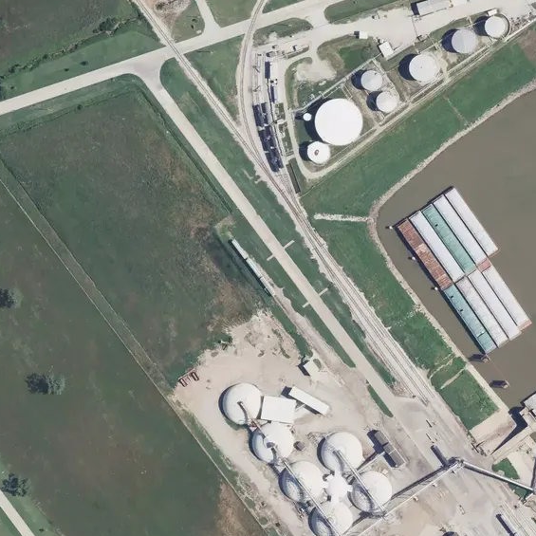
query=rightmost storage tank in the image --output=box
[482,11,512,41]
